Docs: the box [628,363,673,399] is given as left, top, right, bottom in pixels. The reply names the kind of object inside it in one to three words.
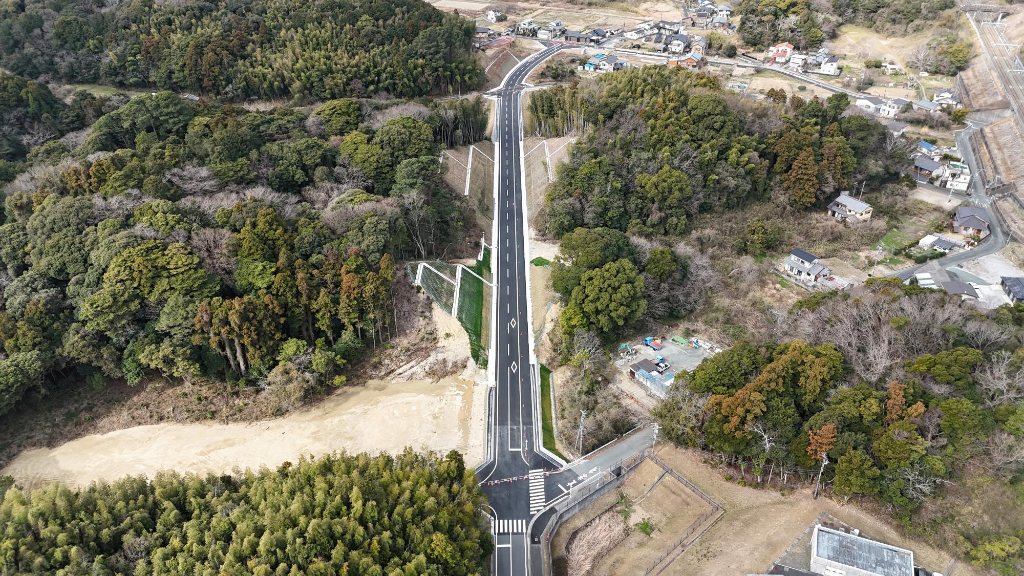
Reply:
shed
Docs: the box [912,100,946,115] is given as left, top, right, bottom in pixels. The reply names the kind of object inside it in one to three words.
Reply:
house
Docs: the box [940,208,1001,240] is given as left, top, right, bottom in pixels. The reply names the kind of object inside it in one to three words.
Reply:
house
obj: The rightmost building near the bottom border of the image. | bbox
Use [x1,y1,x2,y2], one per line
[810,520,917,576]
